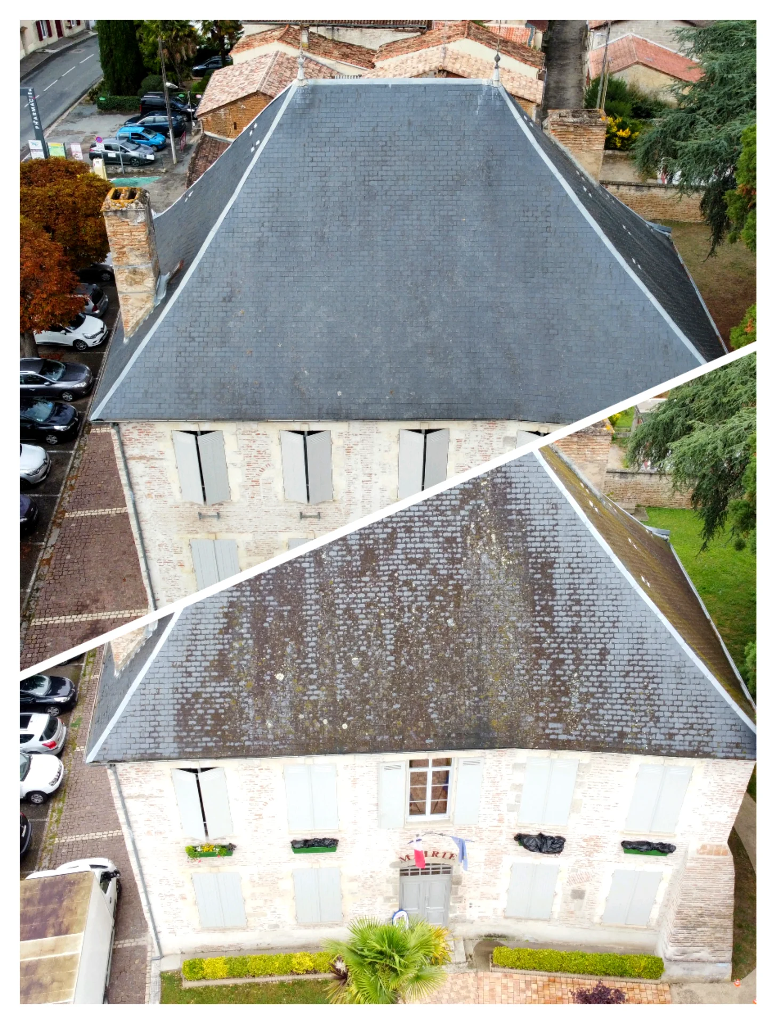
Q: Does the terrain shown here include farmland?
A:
No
